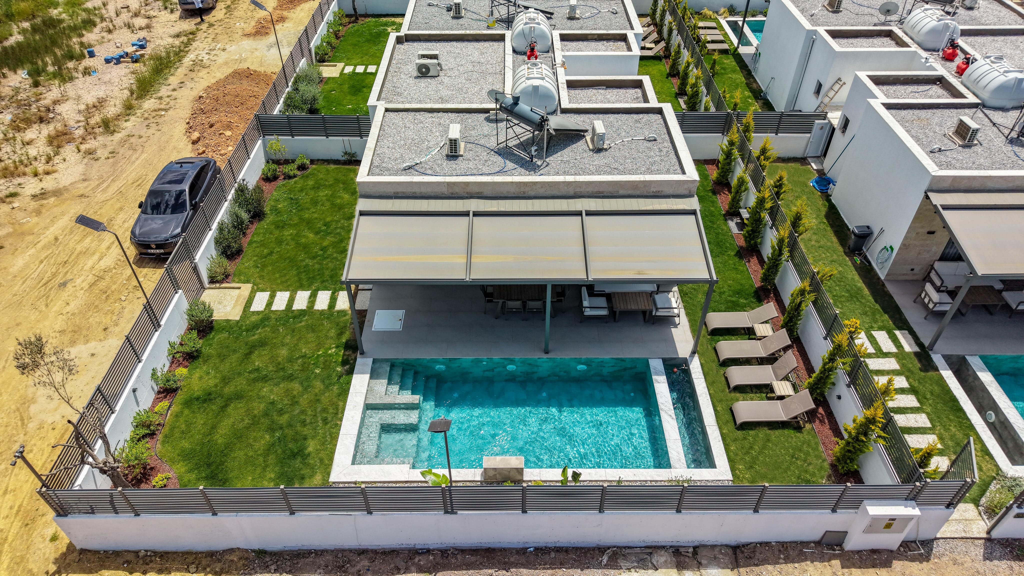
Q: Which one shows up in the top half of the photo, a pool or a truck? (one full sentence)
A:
Looking in the top half of the photo, you will find a pool.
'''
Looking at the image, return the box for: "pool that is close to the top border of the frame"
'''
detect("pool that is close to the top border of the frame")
[719,21,760,49]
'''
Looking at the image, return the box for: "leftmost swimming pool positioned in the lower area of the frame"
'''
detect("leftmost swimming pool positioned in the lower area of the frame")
[329,358,732,482]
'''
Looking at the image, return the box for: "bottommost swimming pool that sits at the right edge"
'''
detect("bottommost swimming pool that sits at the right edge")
[932,355,1024,476]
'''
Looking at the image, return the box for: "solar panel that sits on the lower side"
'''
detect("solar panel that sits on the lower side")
[429,420,453,433]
